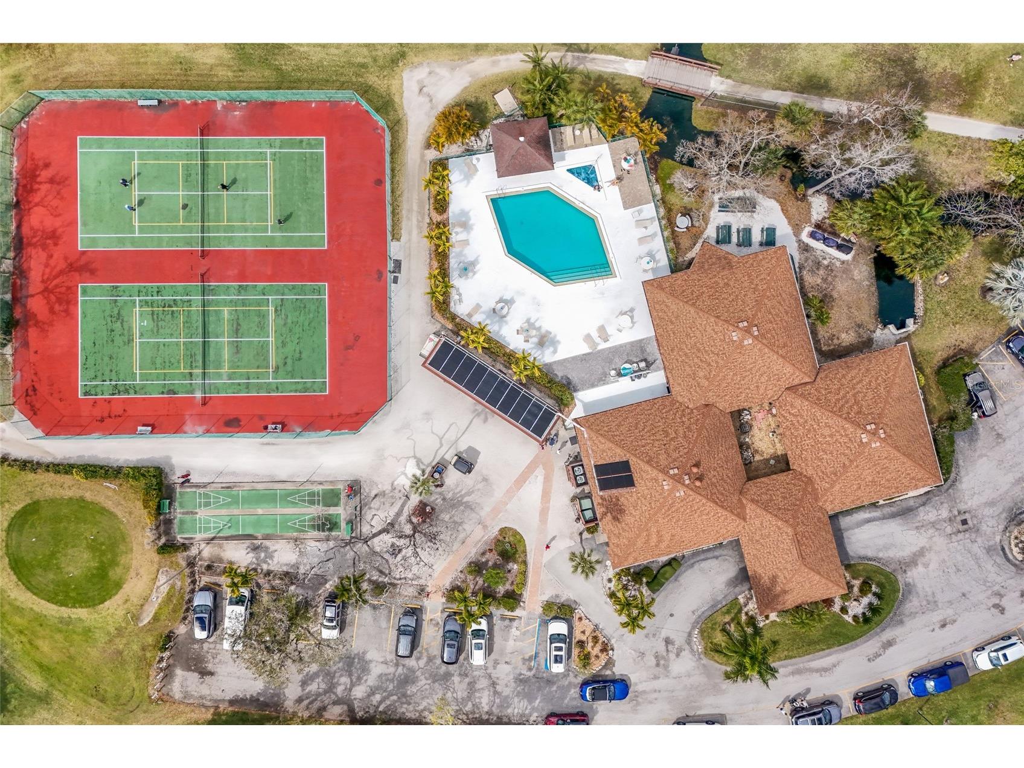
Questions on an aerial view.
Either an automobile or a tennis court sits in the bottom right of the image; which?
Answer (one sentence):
You can see an automobile in the bottom right of the image.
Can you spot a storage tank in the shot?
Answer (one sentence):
No, there appears to be no storage tank in this shot.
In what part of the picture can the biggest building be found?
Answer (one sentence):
You can find the biggest building in the right area of the picture.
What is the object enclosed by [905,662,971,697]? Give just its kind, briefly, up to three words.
truck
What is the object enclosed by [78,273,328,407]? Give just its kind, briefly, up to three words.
tennis court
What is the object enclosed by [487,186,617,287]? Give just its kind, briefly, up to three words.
swimming pool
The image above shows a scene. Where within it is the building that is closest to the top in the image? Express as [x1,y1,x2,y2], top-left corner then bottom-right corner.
[490,117,554,180]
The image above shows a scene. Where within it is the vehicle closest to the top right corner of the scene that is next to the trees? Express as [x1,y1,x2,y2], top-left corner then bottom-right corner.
[1001,329,1024,374]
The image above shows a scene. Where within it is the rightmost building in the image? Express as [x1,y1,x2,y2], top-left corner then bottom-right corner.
[558,241,944,616]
